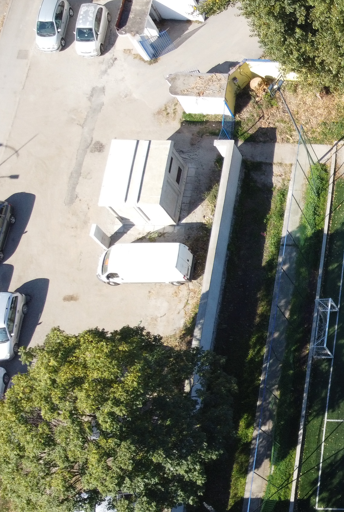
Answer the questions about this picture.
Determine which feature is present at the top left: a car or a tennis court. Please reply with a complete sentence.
Looking at the top left, you will find a car.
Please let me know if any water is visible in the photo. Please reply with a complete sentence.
No, water can't be seen anywhere here.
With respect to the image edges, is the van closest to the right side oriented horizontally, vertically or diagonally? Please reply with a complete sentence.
The van closest to the right side has been laid out horizontally relative to the frame.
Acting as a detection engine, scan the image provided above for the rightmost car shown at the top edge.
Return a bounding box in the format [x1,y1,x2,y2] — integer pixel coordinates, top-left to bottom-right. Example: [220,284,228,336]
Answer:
[70,6,110,58]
